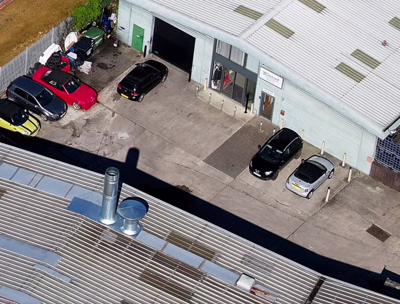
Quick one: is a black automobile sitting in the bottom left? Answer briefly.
No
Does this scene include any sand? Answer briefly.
No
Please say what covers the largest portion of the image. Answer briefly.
buildings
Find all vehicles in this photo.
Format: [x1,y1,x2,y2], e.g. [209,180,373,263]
[247,126,307,182]
[51,63,101,111]
[5,72,66,120]
[115,58,168,103]
[286,157,335,199]
[0,96,42,137]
